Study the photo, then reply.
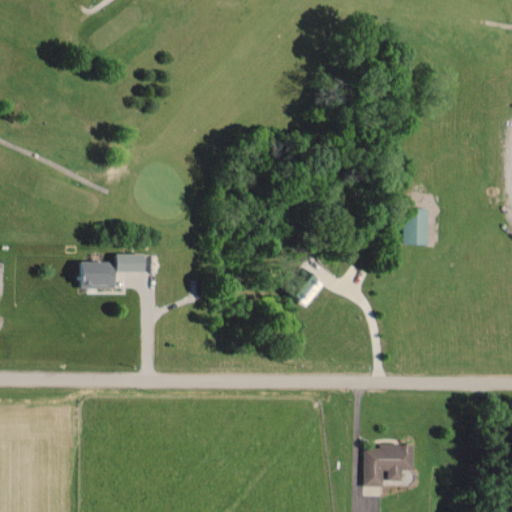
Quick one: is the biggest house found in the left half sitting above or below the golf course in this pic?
below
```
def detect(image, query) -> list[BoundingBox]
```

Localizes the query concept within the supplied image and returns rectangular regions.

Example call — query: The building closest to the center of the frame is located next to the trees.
[295,270,329,307]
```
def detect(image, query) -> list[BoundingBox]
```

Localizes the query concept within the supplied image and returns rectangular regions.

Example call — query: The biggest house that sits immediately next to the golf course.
[77,262,116,289]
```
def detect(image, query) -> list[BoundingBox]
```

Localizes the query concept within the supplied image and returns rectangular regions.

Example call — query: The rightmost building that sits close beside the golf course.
[117,254,147,272]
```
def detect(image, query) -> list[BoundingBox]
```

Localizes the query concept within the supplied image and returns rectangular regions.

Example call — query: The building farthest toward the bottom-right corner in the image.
[364,444,414,486]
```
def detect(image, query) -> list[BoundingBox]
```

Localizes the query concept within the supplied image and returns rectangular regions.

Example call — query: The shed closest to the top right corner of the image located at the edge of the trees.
[402,208,428,246]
